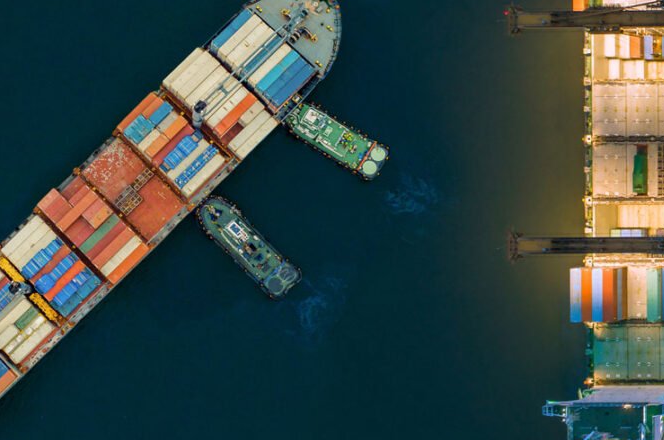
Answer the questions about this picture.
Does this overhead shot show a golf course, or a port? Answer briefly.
port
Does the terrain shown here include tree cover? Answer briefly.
No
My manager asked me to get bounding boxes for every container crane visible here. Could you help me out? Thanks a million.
[506,227,664,262]
[506,0,664,37]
